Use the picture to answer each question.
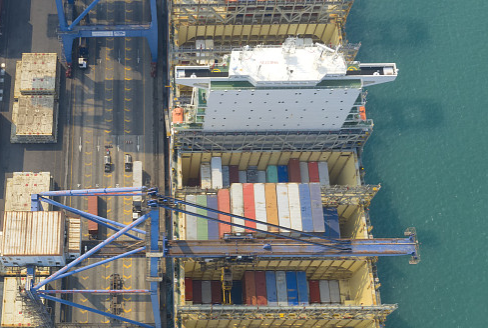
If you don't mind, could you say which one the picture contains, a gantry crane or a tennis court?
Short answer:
gantry crane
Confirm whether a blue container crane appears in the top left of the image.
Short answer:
Yes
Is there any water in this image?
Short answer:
Yes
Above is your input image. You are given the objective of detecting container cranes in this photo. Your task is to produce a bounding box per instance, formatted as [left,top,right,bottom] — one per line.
[53,0,157,77]
[0,173,433,328]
